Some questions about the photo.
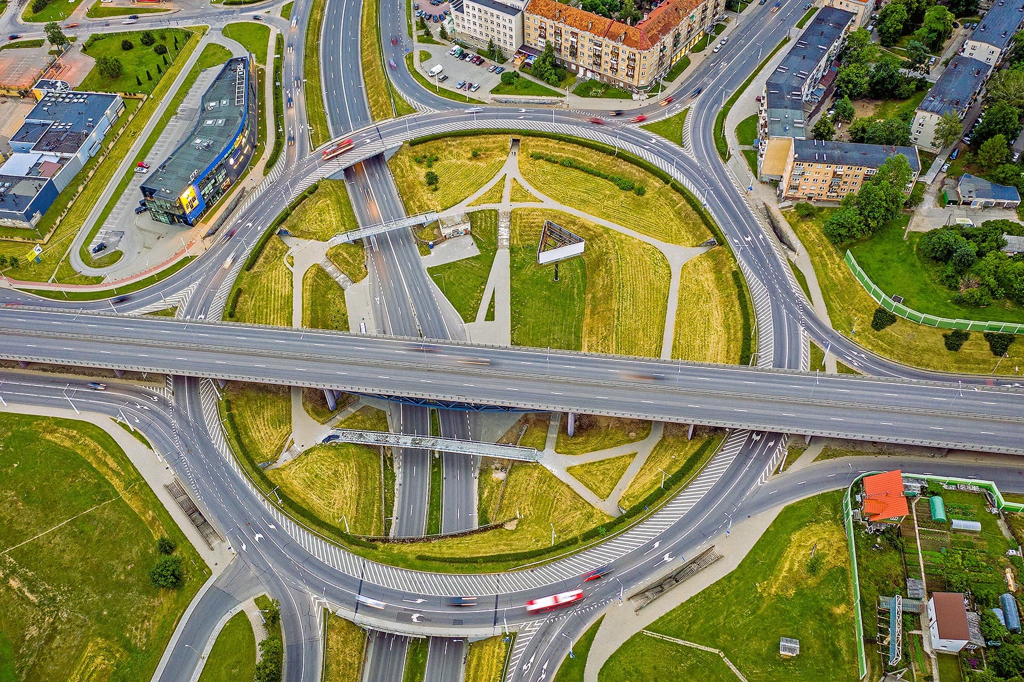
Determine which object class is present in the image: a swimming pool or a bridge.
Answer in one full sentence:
The one in the frame is a bridge.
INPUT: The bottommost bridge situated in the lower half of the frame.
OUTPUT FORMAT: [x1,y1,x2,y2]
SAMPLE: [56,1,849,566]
[330,604,506,682]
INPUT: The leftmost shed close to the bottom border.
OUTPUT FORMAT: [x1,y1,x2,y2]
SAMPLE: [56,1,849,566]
[781,638,799,659]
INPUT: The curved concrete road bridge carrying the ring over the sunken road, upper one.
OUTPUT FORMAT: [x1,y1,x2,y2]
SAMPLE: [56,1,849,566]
[283,102,417,207]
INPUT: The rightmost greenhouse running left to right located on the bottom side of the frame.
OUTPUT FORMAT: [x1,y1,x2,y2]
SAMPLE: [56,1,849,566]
[951,521,983,537]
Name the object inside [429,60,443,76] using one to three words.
vehicle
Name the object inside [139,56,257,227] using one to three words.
building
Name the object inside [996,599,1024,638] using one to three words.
greenhouse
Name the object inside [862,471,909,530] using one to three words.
house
